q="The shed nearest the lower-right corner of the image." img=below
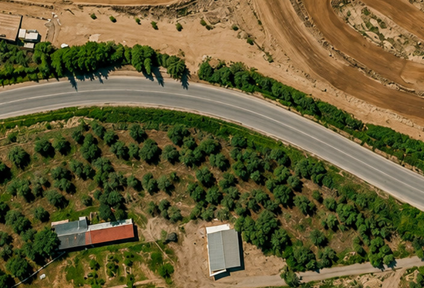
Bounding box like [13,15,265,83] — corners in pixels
[206,222,241,276]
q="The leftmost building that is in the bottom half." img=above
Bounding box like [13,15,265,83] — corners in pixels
[51,215,90,248]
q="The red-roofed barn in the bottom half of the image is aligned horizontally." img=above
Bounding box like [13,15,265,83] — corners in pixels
[86,216,137,244]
